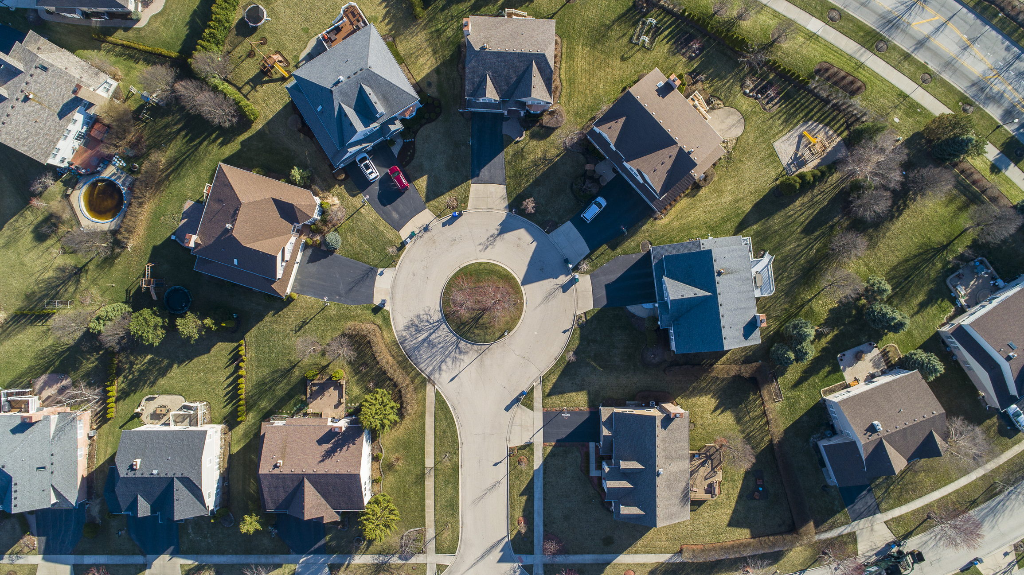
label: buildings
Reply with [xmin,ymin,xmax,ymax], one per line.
[0,29,116,168]
[938,276,1024,412]
[183,162,321,299]
[462,15,556,114]
[0,406,91,514]
[599,403,691,528]
[285,22,420,168]
[103,428,217,524]
[817,368,950,489]
[35,0,148,17]
[650,235,768,354]
[257,415,370,523]
[586,67,726,214]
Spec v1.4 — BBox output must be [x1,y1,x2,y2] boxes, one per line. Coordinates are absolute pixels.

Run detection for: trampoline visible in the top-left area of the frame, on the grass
[240,0,270,26]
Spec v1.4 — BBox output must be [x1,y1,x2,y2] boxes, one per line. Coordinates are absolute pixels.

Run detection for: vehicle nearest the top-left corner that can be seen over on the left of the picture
[355,151,379,184]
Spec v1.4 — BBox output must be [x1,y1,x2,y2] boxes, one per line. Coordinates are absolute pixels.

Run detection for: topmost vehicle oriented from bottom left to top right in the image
[581,194,606,225]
